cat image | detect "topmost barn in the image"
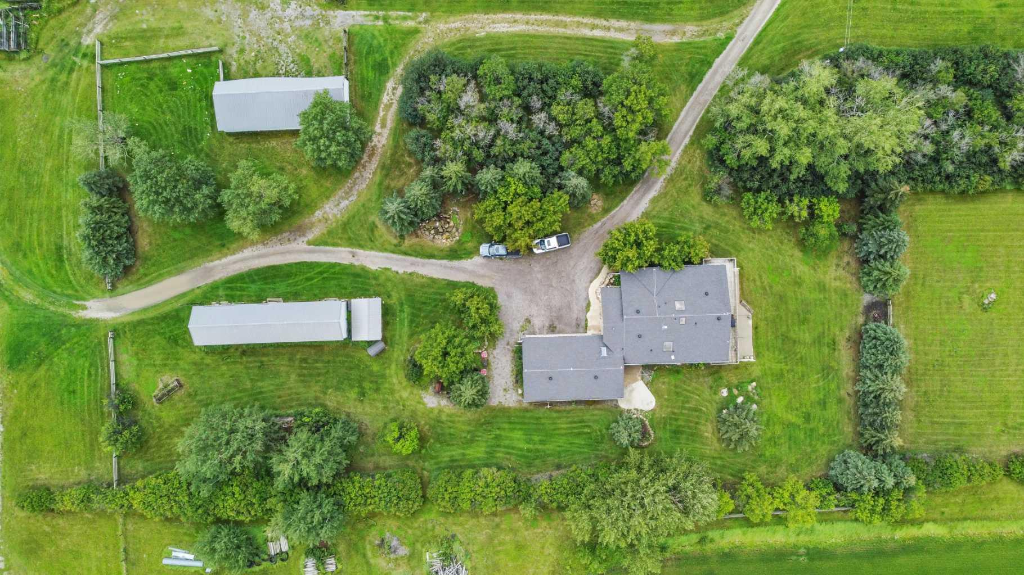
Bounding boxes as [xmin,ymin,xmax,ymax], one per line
[213,77,350,134]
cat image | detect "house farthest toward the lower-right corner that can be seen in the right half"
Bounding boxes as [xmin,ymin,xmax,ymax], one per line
[514,264,731,407]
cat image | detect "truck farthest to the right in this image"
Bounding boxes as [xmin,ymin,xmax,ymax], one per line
[532,232,572,253]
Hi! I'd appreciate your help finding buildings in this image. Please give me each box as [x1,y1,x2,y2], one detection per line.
[188,297,349,345]
[351,296,384,341]
[213,77,350,134]
[514,264,731,407]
